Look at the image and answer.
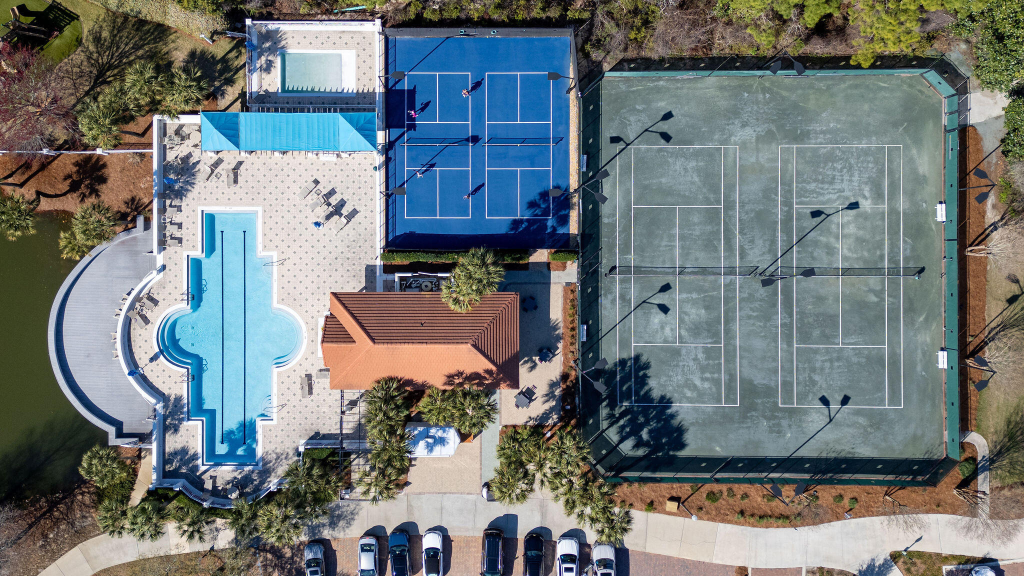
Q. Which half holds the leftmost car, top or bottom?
bottom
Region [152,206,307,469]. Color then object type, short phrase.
blue swimming pool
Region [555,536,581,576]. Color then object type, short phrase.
white car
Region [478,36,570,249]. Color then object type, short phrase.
blue sports court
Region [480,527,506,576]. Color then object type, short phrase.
black car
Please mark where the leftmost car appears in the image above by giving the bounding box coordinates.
[301,542,326,576]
